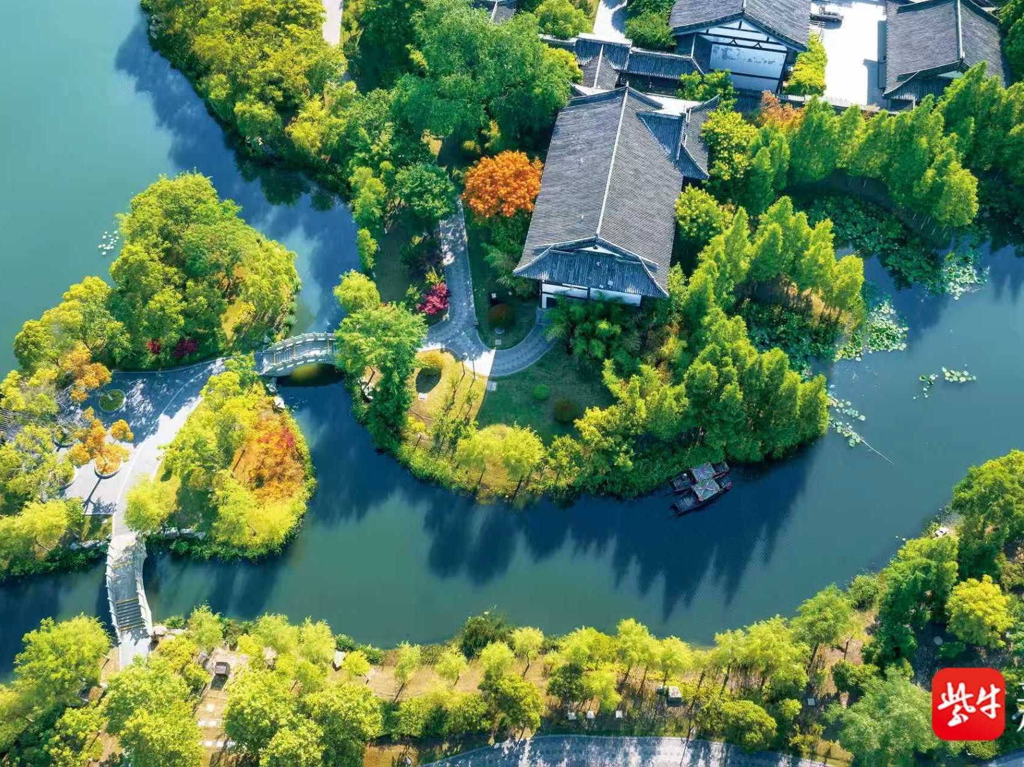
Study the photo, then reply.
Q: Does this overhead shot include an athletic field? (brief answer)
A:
No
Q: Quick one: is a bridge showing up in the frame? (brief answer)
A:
Yes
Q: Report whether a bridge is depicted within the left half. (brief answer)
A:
Yes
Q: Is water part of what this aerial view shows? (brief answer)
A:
Yes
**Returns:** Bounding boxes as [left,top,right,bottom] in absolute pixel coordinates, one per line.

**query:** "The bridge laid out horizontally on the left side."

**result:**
[251,334,389,381]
